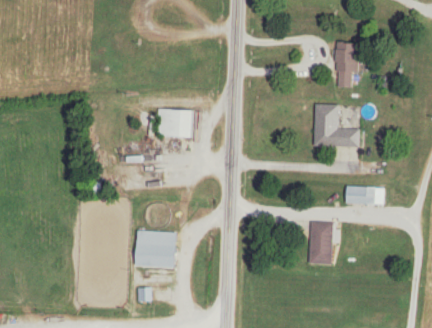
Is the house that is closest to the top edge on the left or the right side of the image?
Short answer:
right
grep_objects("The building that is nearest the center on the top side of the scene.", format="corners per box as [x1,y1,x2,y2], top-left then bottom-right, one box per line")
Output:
[158,108,196,140]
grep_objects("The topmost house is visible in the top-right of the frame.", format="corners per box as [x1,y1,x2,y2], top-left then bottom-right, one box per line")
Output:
[336,41,362,88]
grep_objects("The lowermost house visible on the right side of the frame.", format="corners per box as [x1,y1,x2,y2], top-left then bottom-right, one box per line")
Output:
[310,222,333,264]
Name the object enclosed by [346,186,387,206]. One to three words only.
shed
